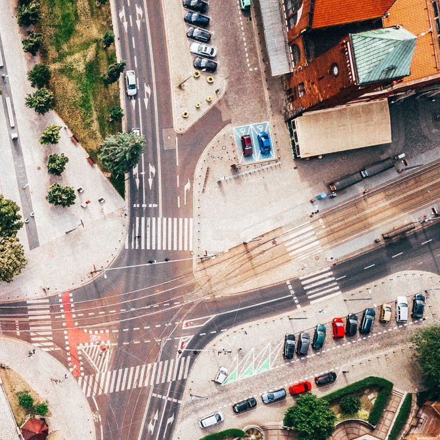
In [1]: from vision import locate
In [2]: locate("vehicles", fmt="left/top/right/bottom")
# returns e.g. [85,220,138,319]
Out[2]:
[191,42,217,56]
[185,10,212,25]
[243,133,255,154]
[285,333,299,358]
[243,0,254,12]
[126,68,139,95]
[298,333,313,355]
[131,127,143,146]
[382,302,394,323]
[412,293,429,319]
[258,130,272,153]
[346,313,362,336]
[235,398,258,414]
[194,56,218,71]
[262,389,289,404]
[215,366,229,385]
[361,308,378,334]
[200,412,225,429]
[189,26,212,41]
[290,380,314,395]
[397,296,414,322]
[313,323,330,350]
[185,0,208,11]
[316,372,339,386]
[333,316,347,339]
